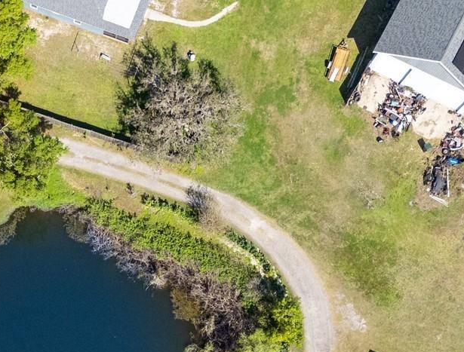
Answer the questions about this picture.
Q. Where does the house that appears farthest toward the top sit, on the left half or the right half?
left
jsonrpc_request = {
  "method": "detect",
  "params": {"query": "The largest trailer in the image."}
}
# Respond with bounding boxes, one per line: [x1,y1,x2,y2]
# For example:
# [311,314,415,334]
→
[323,34,352,80]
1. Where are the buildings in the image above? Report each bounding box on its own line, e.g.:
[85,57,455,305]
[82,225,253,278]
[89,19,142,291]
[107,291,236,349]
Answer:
[22,0,153,55]
[359,0,464,120]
